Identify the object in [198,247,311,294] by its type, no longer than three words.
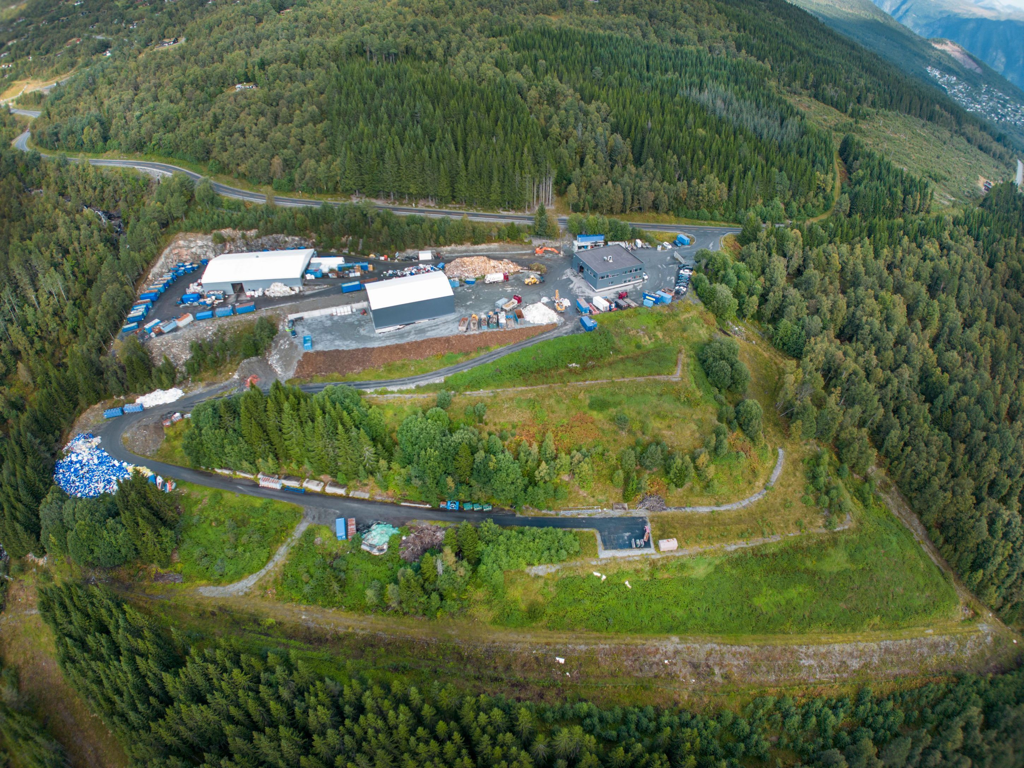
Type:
building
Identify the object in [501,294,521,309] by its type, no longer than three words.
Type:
vehicle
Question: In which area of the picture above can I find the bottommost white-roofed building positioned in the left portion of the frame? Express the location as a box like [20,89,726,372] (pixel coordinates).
[361,273,455,332]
